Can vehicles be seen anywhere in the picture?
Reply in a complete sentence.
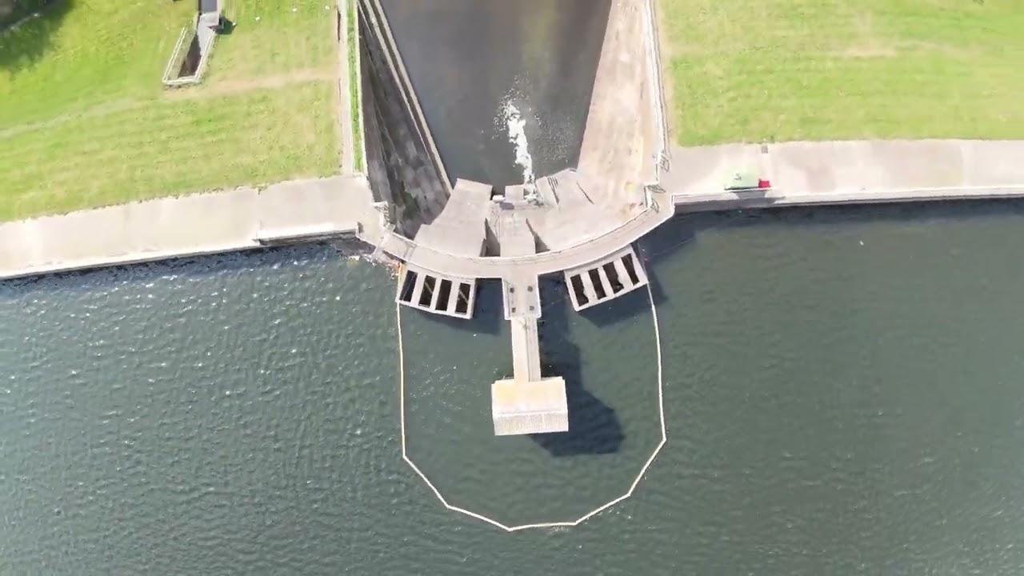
No, there isn't any vehicle down there.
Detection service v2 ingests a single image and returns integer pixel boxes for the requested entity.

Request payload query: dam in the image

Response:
[0,0,1024,281]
